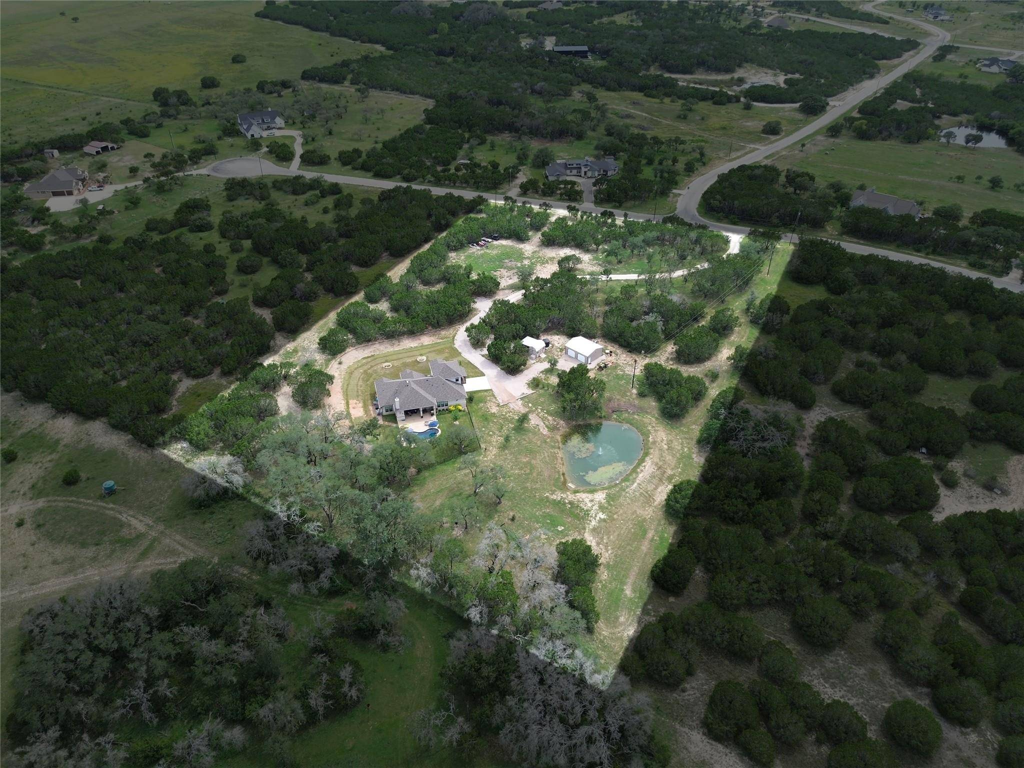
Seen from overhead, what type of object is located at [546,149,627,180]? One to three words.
house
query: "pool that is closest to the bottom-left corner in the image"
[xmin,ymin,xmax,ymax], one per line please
[413,427,441,441]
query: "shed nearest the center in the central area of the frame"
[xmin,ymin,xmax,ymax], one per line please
[521,339,546,359]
